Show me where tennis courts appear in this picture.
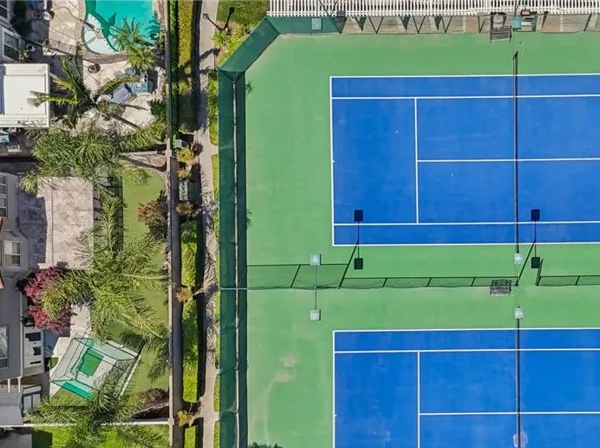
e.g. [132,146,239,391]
[333,328,600,448]
[330,72,600,246]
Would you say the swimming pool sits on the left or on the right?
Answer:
left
